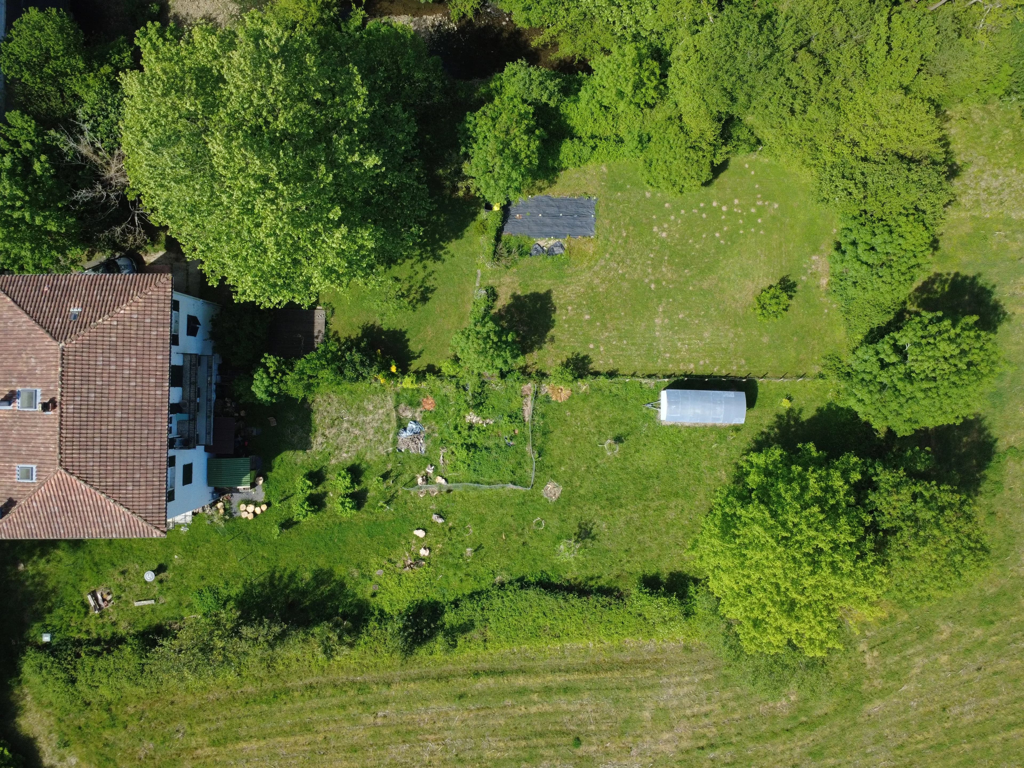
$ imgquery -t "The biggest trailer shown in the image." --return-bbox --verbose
[645,390,748,424]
